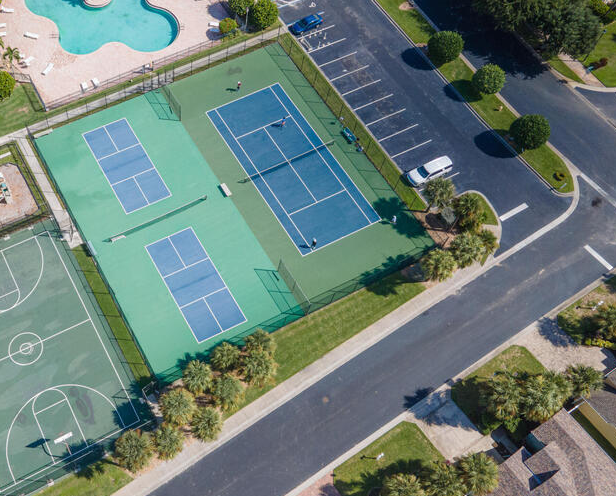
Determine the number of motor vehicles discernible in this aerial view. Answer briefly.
2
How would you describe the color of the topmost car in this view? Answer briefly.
blue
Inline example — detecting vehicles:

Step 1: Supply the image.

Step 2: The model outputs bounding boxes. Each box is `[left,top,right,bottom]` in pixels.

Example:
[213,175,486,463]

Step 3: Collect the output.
[410,154,454,184]
[289,13,324,33]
